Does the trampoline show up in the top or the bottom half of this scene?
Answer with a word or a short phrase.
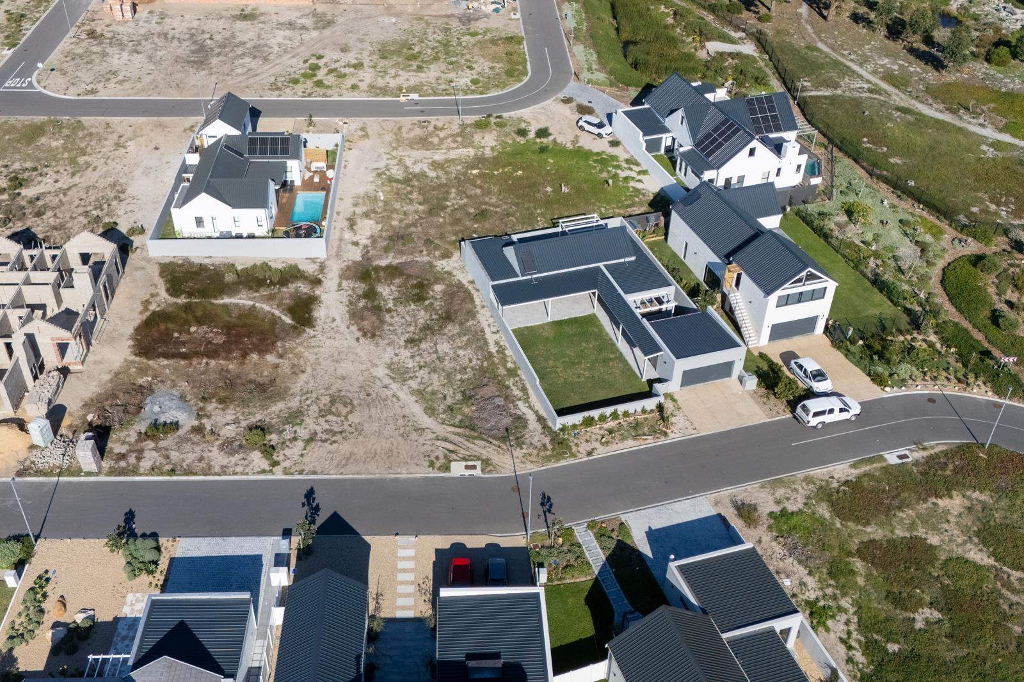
top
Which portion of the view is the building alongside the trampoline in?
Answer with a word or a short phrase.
top left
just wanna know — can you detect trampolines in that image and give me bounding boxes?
[281,218,319,239]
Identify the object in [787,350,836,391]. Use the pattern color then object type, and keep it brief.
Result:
white car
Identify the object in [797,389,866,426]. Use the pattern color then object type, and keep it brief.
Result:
white truck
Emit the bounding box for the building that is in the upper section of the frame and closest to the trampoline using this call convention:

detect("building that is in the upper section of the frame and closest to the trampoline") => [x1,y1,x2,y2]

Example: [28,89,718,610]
[171,125,306,236]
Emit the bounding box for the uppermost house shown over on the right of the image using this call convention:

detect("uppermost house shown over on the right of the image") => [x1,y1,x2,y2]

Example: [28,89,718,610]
[617,74,821,191]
